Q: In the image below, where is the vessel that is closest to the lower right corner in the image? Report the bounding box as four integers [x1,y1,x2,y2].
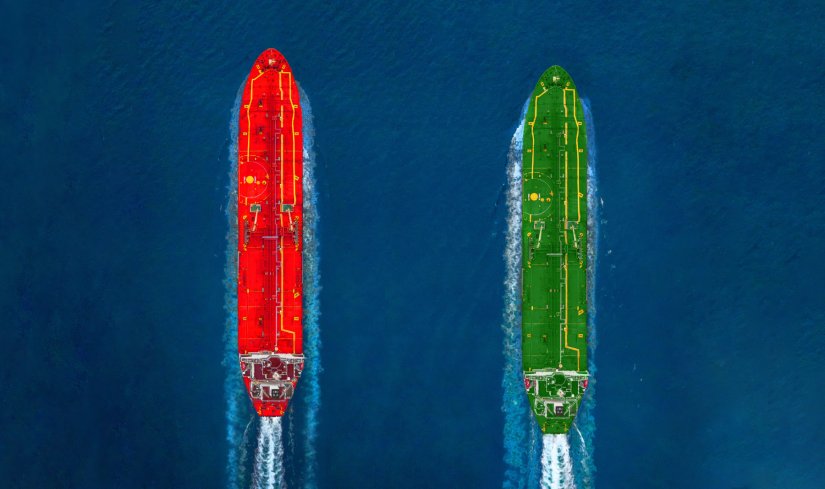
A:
[522,64,592,433]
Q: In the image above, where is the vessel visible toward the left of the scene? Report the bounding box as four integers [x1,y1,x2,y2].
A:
[238,48,306,416]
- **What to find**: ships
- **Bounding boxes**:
[522,64,592,433]
[238,48,306,416]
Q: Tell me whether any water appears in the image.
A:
Yes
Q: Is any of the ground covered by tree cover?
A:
No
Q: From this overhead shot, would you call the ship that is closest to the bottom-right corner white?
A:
No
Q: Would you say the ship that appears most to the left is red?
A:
Yes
